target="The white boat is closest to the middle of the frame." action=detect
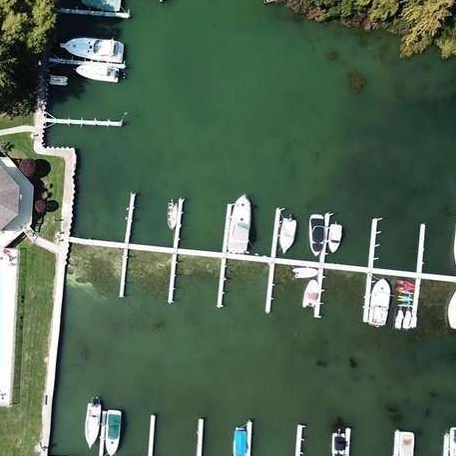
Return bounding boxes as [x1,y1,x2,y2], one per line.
[229,191,254,255]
